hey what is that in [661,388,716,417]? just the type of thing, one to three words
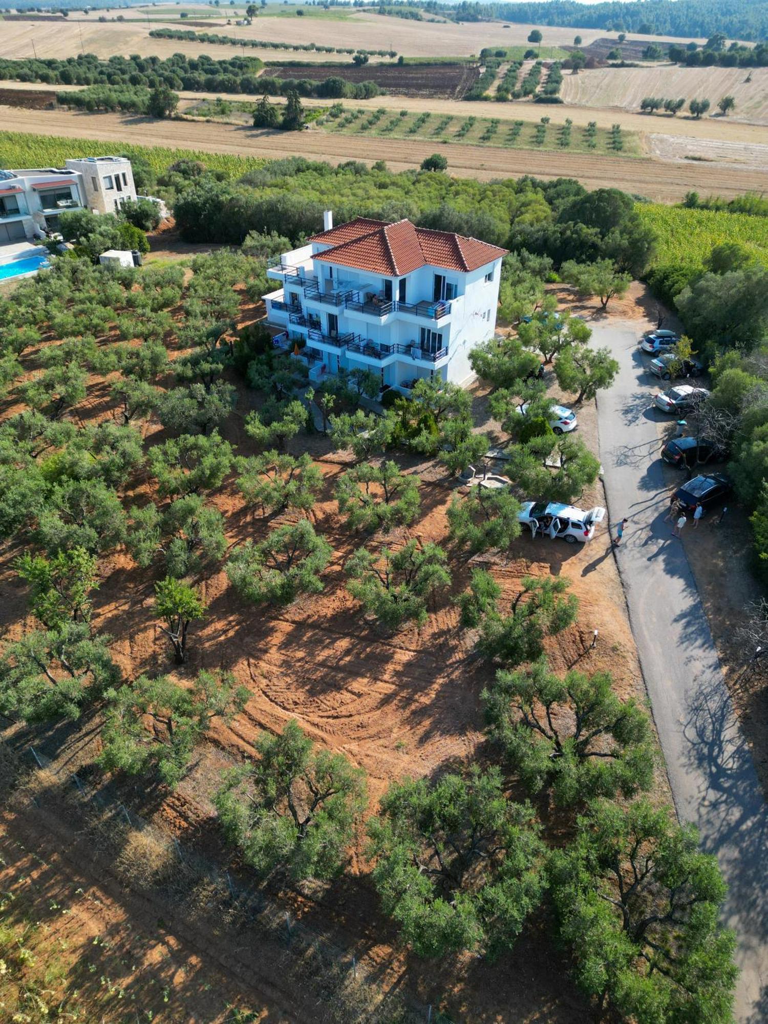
car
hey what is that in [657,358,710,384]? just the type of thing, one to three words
car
